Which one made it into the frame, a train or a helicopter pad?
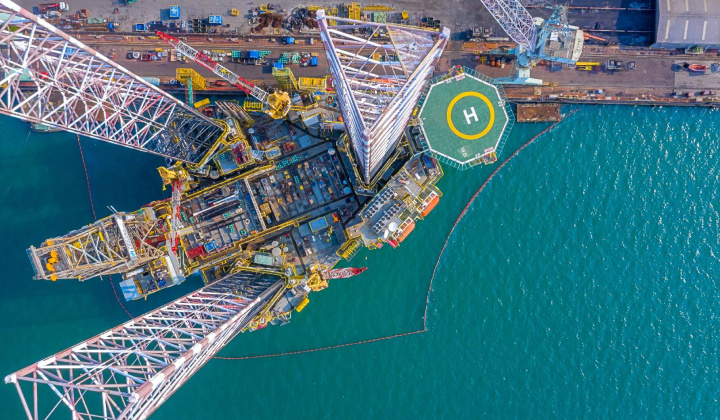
helicopter pad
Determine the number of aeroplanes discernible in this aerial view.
zero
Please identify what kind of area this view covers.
port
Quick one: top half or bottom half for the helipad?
top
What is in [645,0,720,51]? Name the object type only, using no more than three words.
building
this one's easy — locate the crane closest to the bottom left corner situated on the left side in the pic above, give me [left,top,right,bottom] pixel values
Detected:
[160,162,195,261]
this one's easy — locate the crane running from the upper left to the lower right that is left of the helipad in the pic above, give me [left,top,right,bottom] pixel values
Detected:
[155,28,300,122]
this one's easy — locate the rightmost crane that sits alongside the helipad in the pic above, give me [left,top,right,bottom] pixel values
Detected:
[464,0,589,93]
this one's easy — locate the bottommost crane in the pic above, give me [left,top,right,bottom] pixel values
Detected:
[306,265,369,288]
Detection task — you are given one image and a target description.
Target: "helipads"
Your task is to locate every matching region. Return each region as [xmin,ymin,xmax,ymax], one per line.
[413,64,515,170]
